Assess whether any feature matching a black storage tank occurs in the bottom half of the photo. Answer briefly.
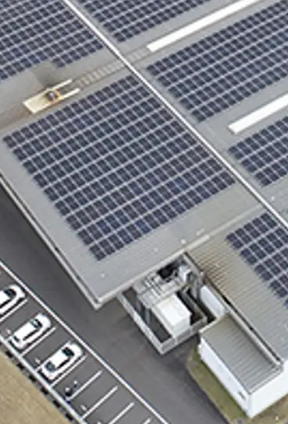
No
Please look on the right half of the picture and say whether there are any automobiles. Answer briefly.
No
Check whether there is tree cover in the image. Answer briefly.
No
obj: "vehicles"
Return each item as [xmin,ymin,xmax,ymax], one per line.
[0,285,27,318]
[41,342,86,379]
[61,378,80,393]
[13,316,52,349]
